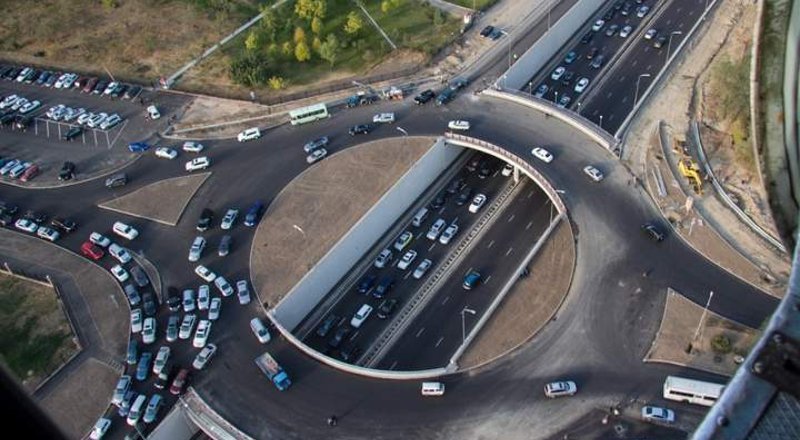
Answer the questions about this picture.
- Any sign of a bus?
Yes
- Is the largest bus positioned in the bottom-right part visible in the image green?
No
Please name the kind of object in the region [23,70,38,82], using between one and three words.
vehicle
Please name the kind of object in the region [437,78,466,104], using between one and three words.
truck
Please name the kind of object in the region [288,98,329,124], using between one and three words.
bus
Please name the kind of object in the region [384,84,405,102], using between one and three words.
work vehicle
